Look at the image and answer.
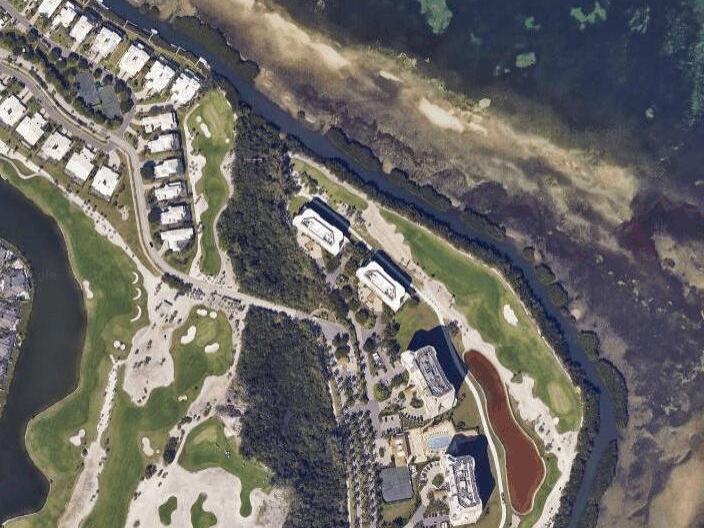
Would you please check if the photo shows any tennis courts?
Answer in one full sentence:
Yes, this view includes a tennis court.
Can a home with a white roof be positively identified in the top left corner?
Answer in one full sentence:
Yes, I can see a home with a white roof in the top left corner.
